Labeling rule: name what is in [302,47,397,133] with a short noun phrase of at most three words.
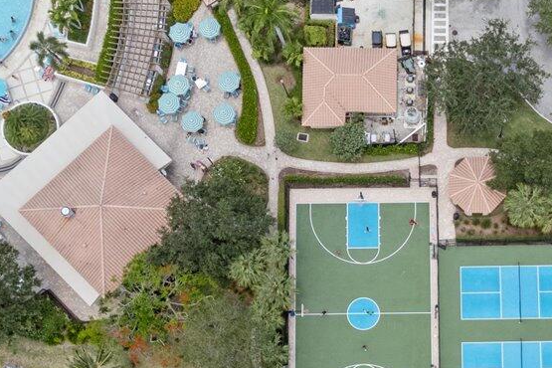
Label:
building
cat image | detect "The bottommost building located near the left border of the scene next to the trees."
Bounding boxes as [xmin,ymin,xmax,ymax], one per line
[0,92,196,305]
